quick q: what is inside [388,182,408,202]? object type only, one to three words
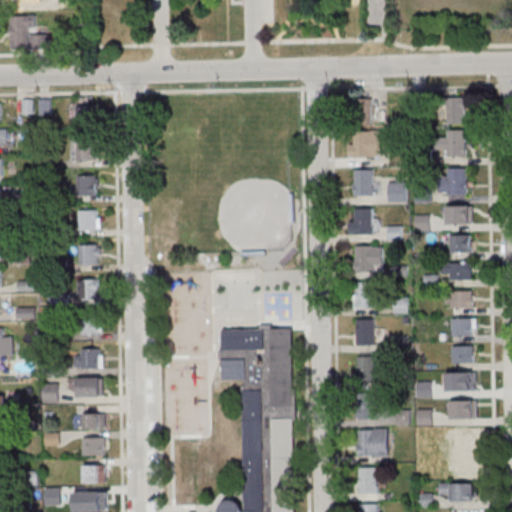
building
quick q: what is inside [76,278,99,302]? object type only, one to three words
house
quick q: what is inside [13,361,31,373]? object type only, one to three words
swimming pool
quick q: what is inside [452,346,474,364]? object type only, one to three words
house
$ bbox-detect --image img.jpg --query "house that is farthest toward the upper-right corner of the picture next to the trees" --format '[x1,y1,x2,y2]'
[437,97,465,126]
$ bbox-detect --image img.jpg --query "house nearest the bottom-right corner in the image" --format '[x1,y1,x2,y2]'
[439,484,473,502]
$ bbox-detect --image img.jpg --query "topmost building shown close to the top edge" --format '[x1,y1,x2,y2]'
[8,14,46,48]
